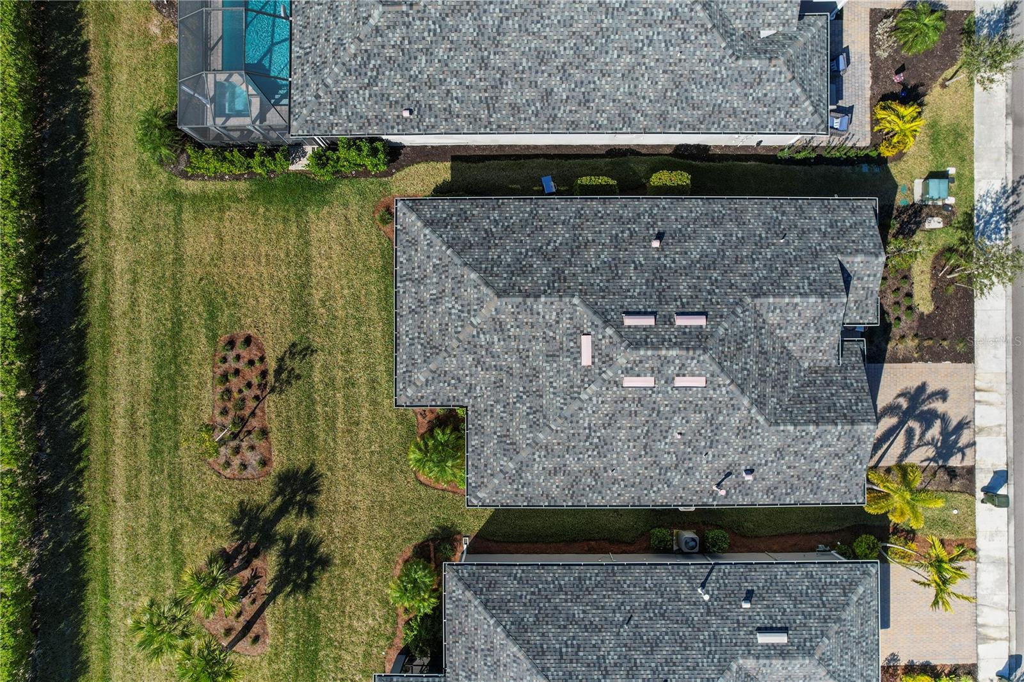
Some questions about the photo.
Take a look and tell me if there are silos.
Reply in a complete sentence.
No, the photo shows no silo.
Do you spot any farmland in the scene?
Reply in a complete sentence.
No, no farmland is visible.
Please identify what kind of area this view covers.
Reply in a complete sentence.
This looks like a residential area.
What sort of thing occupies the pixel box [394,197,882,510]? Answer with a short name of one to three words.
house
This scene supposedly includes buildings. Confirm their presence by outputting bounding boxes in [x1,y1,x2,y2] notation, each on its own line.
[372,550,881,682]
[394,197,882,510]
[290,0,851,147]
